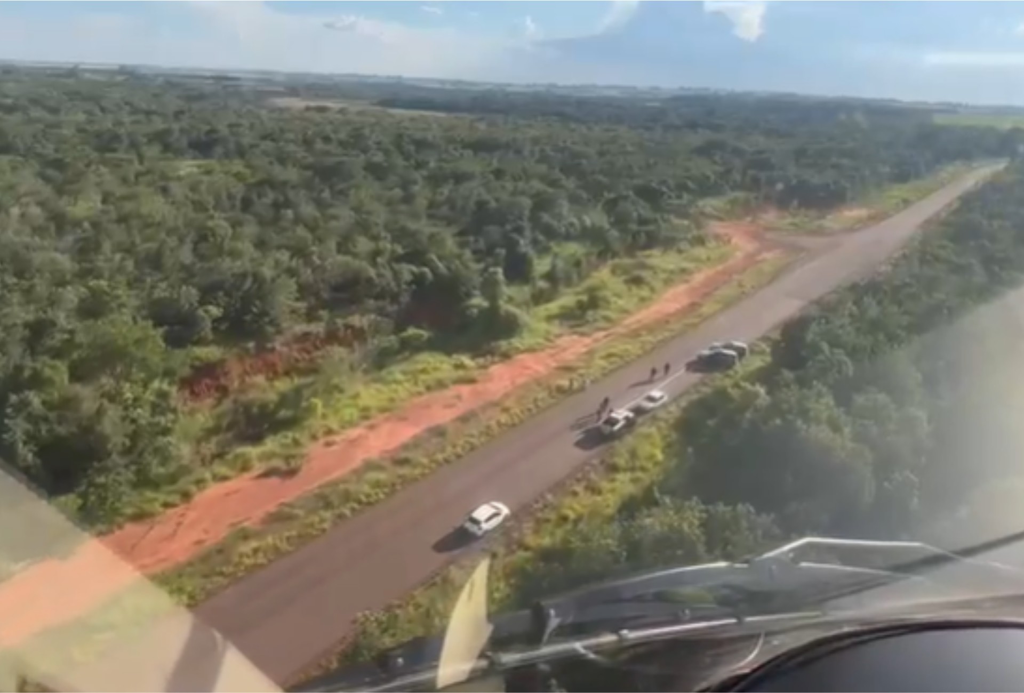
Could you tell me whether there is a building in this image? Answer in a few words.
No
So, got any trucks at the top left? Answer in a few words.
No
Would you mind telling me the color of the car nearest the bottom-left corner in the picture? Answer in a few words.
white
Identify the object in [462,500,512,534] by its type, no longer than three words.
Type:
car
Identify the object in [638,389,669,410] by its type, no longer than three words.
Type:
car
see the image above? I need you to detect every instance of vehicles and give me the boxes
[462,500,512,534]
[597,404,639,434]
[709,340,753,357]
[638,389,669,410]
[695,348,740,369]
